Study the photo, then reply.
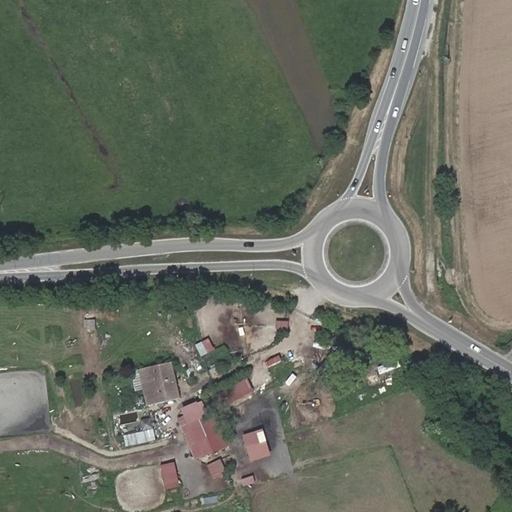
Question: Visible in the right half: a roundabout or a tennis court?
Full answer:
Looking in the right half, you will find a roundabout.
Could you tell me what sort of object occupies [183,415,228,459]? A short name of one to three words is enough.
house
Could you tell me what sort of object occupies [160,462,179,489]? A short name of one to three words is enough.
shed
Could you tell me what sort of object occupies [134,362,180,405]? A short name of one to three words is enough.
barn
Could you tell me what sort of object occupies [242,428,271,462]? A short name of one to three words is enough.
barn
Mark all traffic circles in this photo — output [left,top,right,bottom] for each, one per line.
[302,196,410,307]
